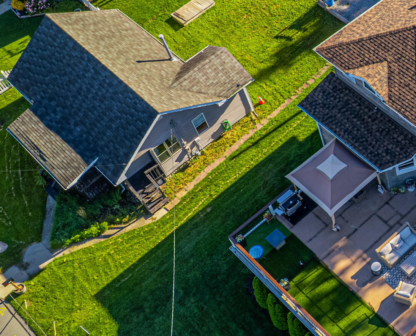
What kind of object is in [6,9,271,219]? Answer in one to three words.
house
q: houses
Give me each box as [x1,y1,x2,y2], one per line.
[296,0,416,189]
[6,9,271,219]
